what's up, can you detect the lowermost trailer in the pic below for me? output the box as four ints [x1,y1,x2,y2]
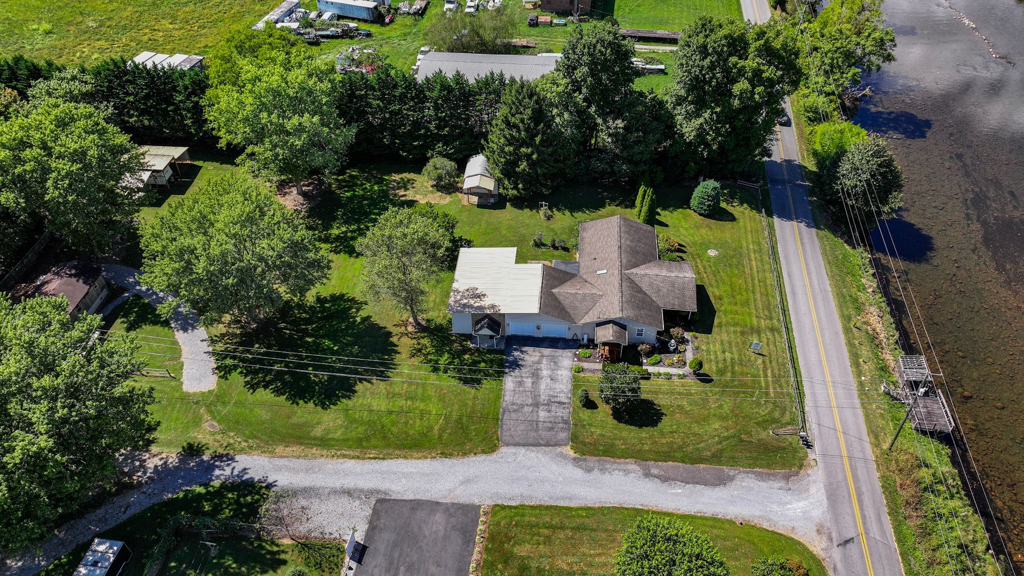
[75,536,125,576]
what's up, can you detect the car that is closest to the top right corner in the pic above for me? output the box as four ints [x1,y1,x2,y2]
[778,107,792,124]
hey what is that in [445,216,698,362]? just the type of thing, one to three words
house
